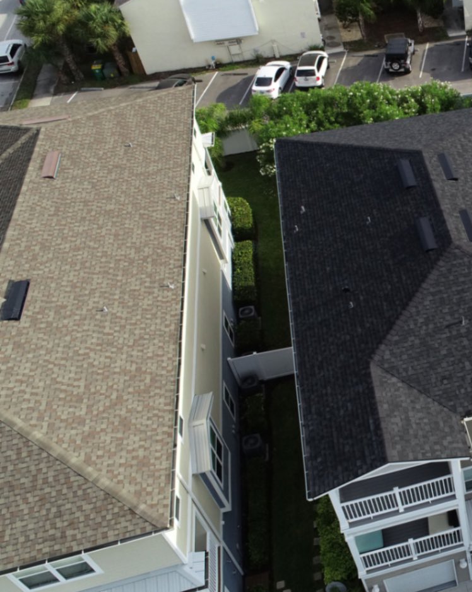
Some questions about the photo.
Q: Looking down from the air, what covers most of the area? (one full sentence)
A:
Most of the picture is covered by buildings.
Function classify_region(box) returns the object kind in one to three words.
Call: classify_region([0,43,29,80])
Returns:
car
